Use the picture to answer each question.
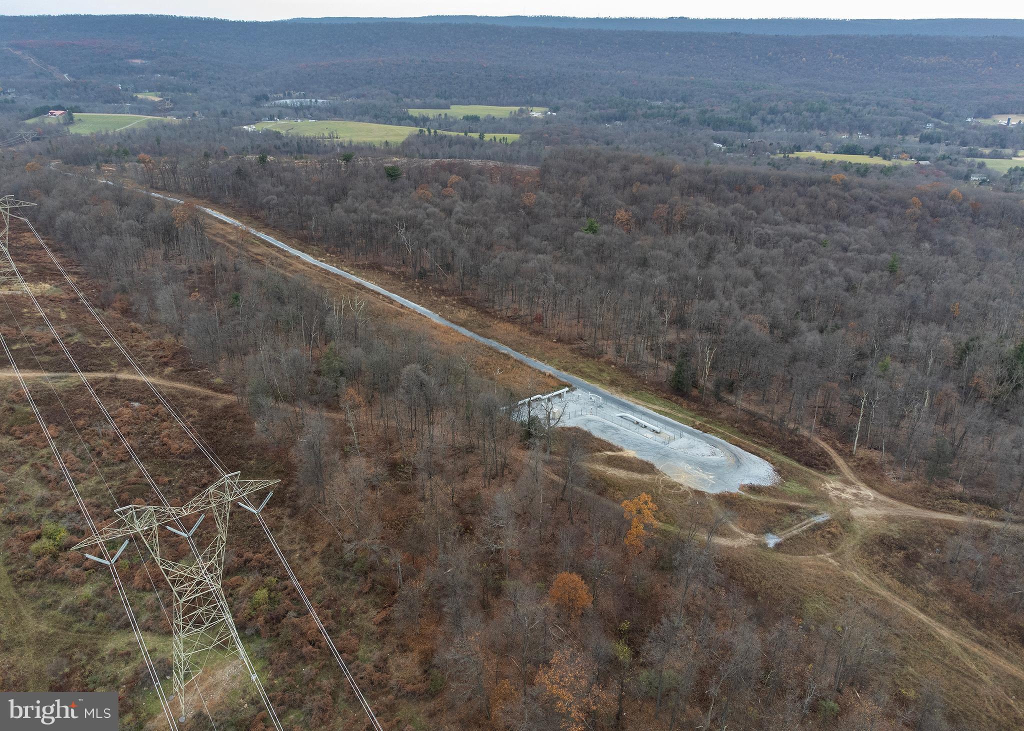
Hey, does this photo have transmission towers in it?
Yes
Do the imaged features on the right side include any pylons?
No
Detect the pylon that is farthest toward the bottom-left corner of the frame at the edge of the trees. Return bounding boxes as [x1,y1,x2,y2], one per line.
[71,470,279,720]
